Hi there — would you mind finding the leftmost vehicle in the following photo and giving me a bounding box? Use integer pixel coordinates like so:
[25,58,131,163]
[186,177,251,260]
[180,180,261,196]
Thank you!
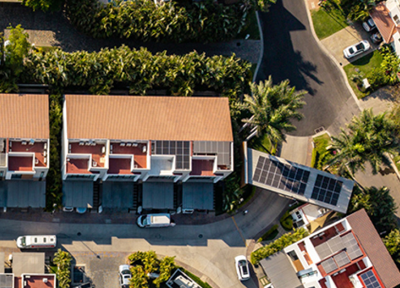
[18,235,55,248]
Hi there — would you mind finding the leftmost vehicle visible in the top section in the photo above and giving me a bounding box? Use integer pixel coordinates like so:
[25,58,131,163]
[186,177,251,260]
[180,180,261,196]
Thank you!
[343,40,369,59]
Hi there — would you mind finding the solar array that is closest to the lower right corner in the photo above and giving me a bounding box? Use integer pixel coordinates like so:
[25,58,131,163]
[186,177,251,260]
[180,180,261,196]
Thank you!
[360,270,381,288]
